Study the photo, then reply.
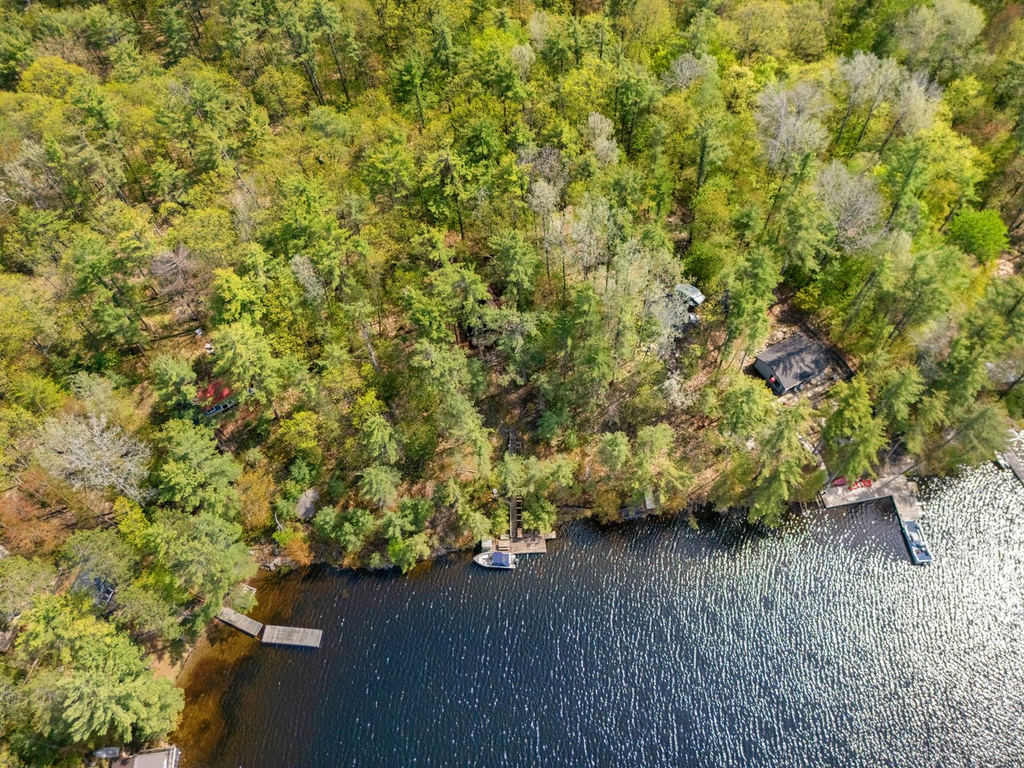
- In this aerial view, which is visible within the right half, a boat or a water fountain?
boat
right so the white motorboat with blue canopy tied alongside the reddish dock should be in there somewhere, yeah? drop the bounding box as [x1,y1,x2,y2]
[473,551,521,571]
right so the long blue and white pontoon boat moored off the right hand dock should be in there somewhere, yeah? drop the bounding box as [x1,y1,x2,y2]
[901,519,934,566]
